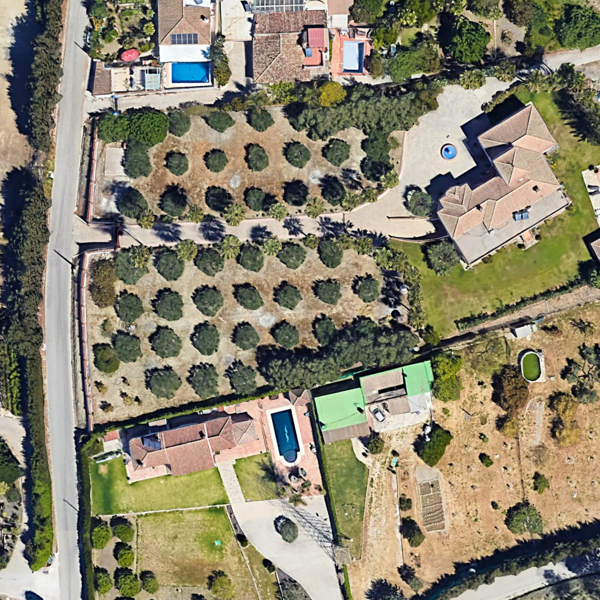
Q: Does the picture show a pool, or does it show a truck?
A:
pool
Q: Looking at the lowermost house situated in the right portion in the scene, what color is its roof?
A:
green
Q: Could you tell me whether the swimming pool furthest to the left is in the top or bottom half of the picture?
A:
top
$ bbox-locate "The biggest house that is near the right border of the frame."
[437,104,572,269]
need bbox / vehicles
[85,26,93,49]
[367,404,386,425]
